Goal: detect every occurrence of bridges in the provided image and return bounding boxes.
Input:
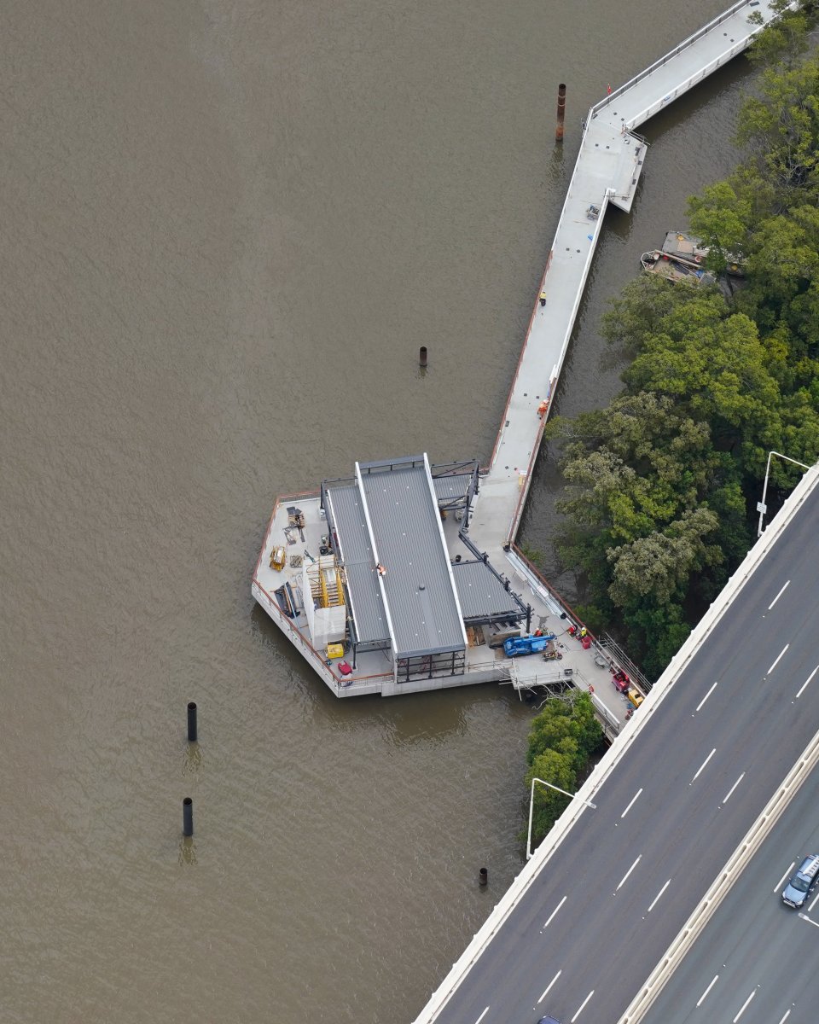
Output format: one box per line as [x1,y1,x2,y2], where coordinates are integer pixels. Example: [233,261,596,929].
[409,454,819,1024]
